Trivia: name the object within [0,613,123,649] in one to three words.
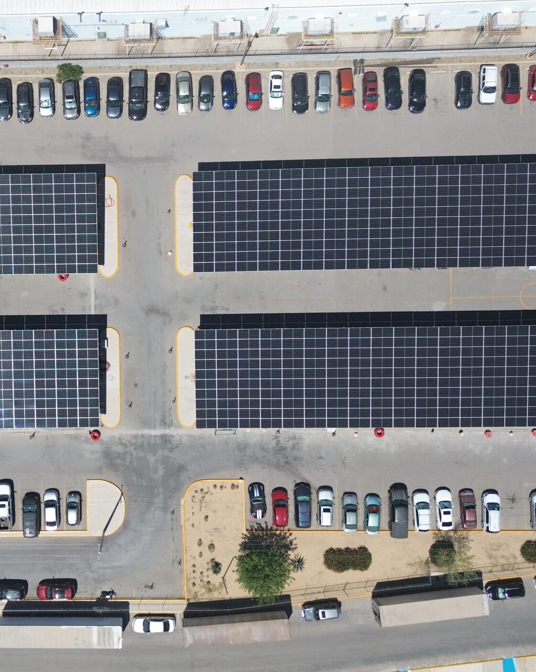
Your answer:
trailer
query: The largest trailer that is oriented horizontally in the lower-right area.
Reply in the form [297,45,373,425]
[368,585,488,628]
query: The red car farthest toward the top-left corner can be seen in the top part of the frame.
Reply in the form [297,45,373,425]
[244,72,263,111]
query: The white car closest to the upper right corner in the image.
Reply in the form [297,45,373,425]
[476,63,499,105]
